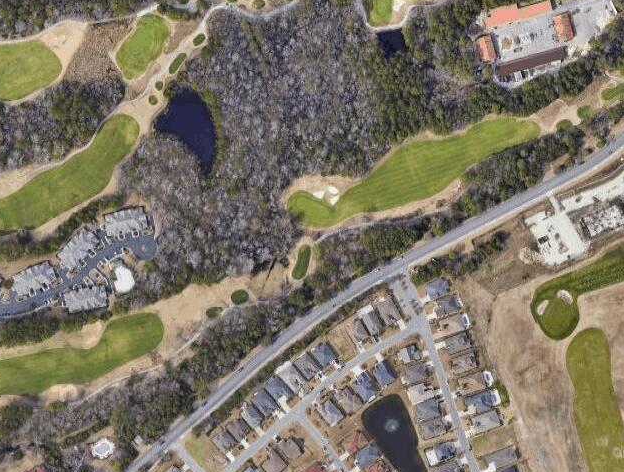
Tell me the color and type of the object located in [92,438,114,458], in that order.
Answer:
white swimming pool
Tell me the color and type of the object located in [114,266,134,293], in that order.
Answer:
white swimming pool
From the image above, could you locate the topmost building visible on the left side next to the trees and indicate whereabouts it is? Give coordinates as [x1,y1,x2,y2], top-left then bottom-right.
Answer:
[104,209,148,236]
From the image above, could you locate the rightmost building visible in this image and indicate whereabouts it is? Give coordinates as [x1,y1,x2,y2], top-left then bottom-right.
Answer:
[553,13,575,41]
